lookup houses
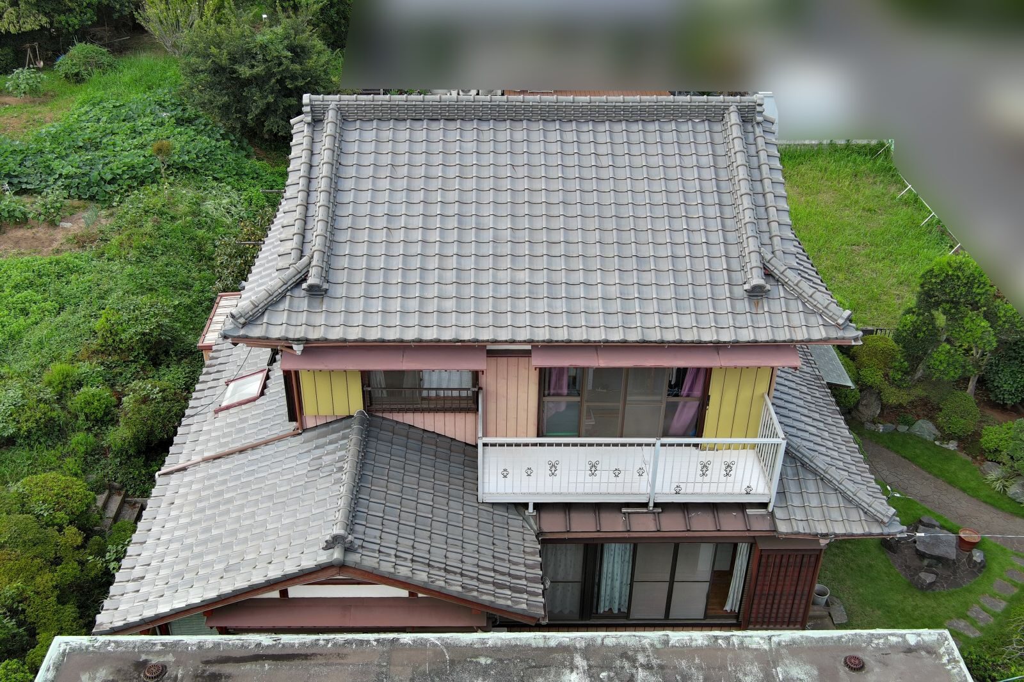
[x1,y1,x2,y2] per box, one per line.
[93,95,911,631]
[329,0,709,92]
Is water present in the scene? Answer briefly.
No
